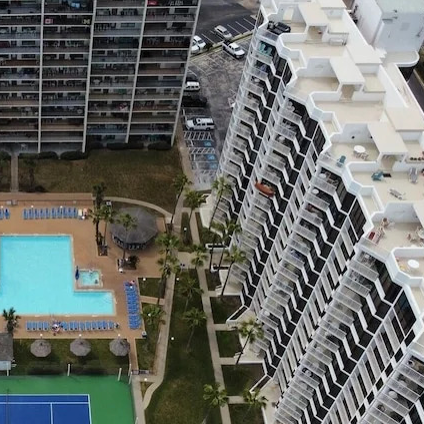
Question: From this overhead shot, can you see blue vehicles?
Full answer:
No, the scene contains no blue vehicle.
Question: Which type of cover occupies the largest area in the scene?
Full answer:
What you mostly see from above here is buildings.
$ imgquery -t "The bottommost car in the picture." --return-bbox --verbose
[185,117,216,131]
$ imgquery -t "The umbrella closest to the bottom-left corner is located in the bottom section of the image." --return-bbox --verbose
[28,336,53,357]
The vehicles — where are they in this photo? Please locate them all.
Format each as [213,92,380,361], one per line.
[221,40,245,60]
[186,80,200,93]
[183,96,204,107]
[194,36,208,50]
[213,23,233,41]
[185,117,216,131]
